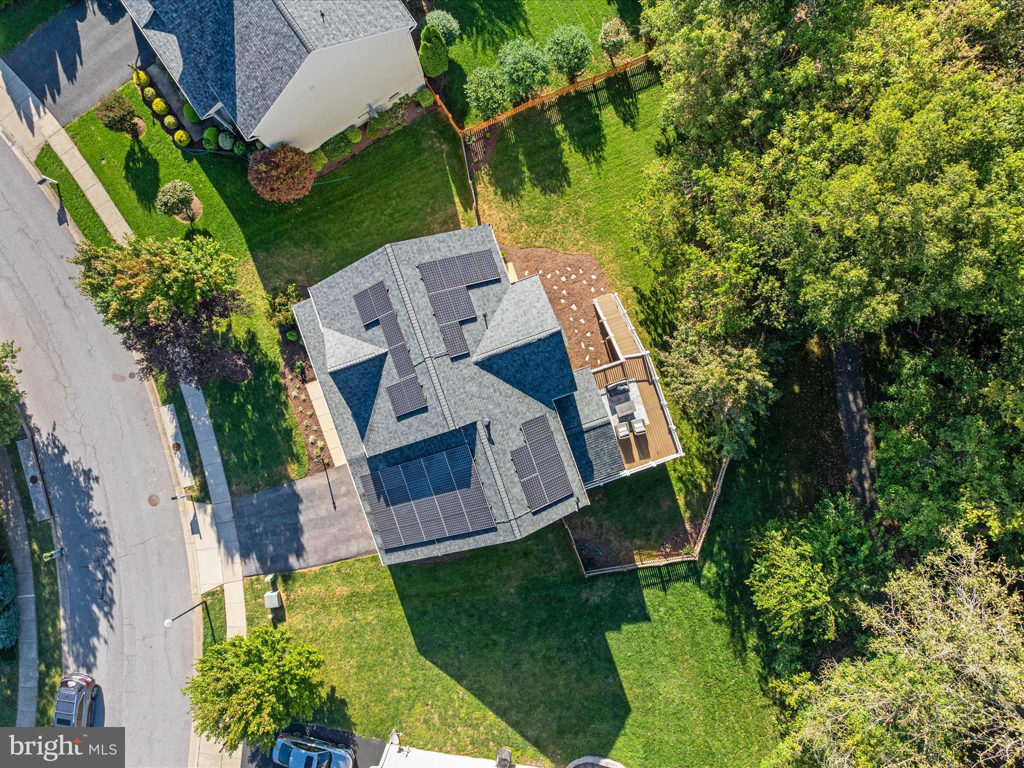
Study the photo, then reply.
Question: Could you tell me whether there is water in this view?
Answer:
No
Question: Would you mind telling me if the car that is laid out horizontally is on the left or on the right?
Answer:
left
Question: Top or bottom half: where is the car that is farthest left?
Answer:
bottom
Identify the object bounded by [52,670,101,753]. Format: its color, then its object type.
gray car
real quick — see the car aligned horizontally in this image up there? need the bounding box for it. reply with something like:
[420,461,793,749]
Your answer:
[271,730,356,768]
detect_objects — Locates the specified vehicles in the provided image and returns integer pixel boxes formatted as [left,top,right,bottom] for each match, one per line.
[52,670,101,753]
[271,730,356,768]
